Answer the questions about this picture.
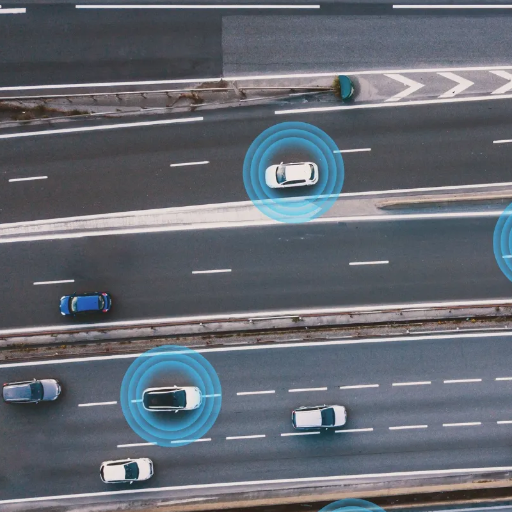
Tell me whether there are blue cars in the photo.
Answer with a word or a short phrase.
Yes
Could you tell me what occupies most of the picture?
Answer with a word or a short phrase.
paved ground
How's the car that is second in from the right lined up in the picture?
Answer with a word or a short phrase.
from left to right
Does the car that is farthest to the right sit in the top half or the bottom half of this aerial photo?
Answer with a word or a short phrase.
top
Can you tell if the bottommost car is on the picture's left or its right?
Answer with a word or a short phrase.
left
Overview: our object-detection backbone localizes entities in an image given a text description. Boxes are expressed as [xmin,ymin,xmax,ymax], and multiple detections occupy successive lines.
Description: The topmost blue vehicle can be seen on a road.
[60,291,112,318]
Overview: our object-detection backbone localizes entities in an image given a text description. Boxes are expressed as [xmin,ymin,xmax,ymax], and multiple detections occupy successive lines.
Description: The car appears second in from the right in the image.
[142,384,202,412]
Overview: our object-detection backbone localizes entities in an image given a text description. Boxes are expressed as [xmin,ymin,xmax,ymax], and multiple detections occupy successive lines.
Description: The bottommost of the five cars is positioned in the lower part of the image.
[100,456,156,485]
